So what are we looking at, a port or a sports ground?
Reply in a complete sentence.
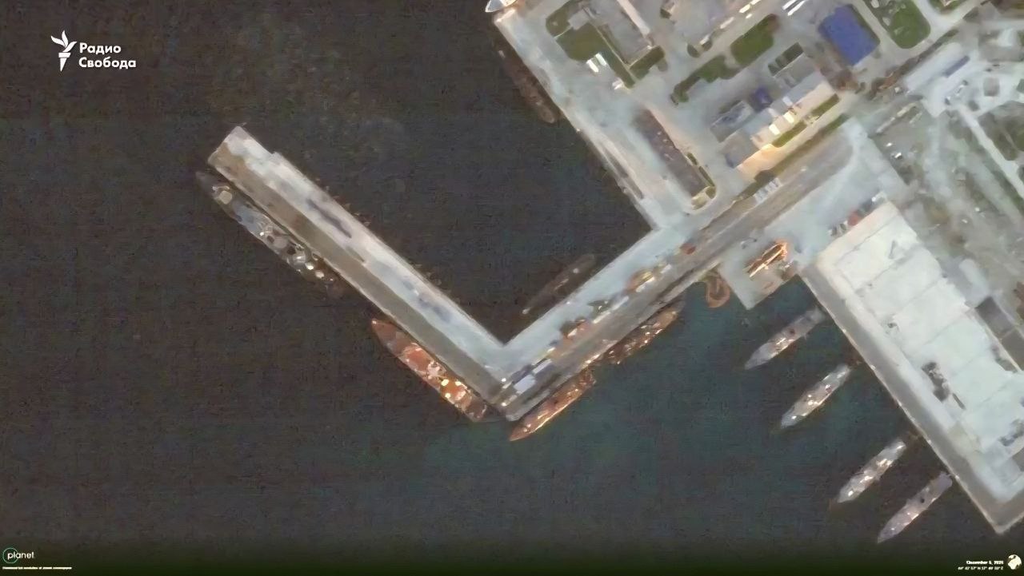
It's a port.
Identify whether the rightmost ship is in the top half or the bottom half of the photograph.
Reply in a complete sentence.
You can find the rightmost ship in the bottom half.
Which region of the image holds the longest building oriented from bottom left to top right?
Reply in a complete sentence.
The longest building oriented from bottom left to top right sits in the top right section of the image.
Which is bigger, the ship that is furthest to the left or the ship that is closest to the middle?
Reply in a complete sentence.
Compared with the ship that is closest to the middle, the ship that is furthest to the left is the larger one.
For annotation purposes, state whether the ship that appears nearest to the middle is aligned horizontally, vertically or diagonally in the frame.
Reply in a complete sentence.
From this overhead view, the ship that appears nearest to the middle appears to run diagonally.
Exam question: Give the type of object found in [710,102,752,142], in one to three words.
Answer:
building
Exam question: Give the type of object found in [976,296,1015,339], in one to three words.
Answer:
building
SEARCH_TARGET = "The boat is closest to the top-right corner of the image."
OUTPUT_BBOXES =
[749,242,793,279]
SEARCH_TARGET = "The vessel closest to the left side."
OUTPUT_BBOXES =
[196,170,346,302]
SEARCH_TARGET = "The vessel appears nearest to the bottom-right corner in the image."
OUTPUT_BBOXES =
[879,469,957,542]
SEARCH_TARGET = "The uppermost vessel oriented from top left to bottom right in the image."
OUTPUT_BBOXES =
[499,46,555,121]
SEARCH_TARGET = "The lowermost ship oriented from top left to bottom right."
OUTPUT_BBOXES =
[373,320,491,428]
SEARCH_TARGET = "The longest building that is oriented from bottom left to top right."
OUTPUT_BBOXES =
[738,70,839,154]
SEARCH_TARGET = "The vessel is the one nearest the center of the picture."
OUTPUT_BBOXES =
[524,256,594,312]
